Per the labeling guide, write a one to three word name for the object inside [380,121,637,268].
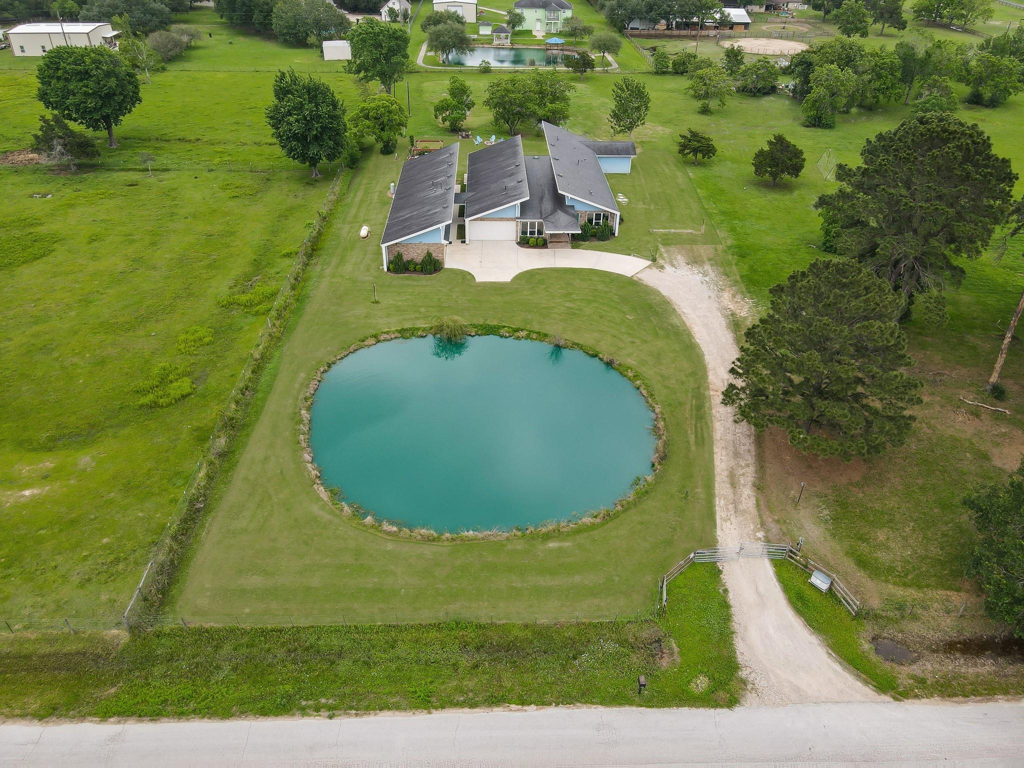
house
